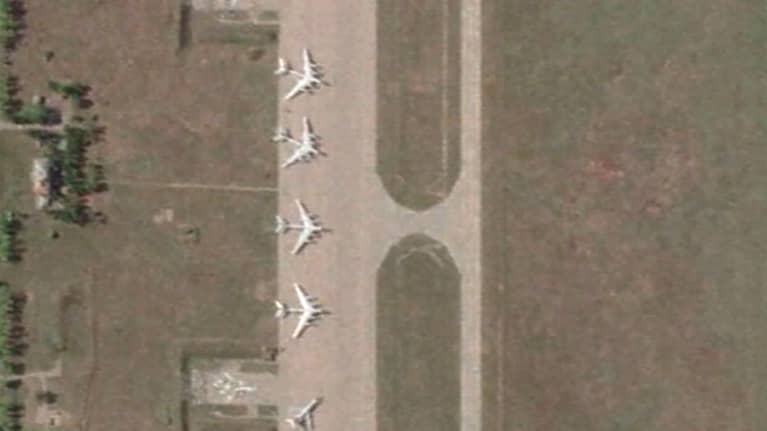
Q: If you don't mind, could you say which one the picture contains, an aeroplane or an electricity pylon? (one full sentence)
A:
Looking from above, you can make out an aeroplane.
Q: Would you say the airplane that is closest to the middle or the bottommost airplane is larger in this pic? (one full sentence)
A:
Of the two, the airplane that is closest to the middle is larger and the bottommost airplane is the smaller one.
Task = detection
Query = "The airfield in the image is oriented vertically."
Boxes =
[278,0,482,431]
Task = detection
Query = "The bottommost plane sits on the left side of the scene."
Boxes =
[284,399,319,430]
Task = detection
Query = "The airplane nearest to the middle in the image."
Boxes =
[277,199,330,253]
